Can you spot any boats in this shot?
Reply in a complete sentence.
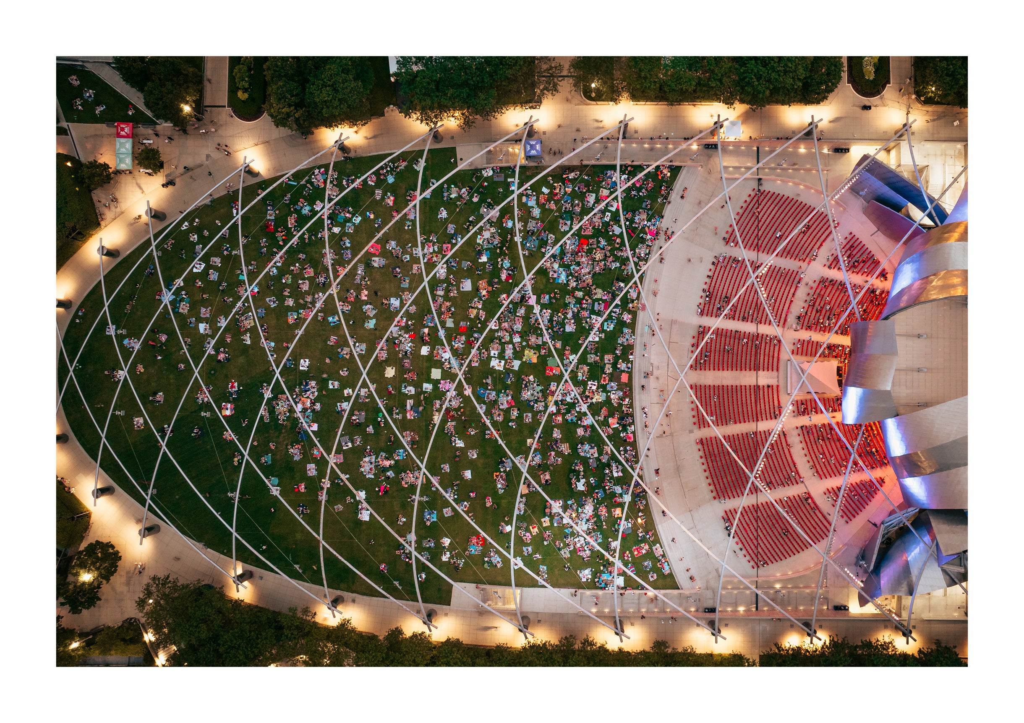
No, the scene contains no boat.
